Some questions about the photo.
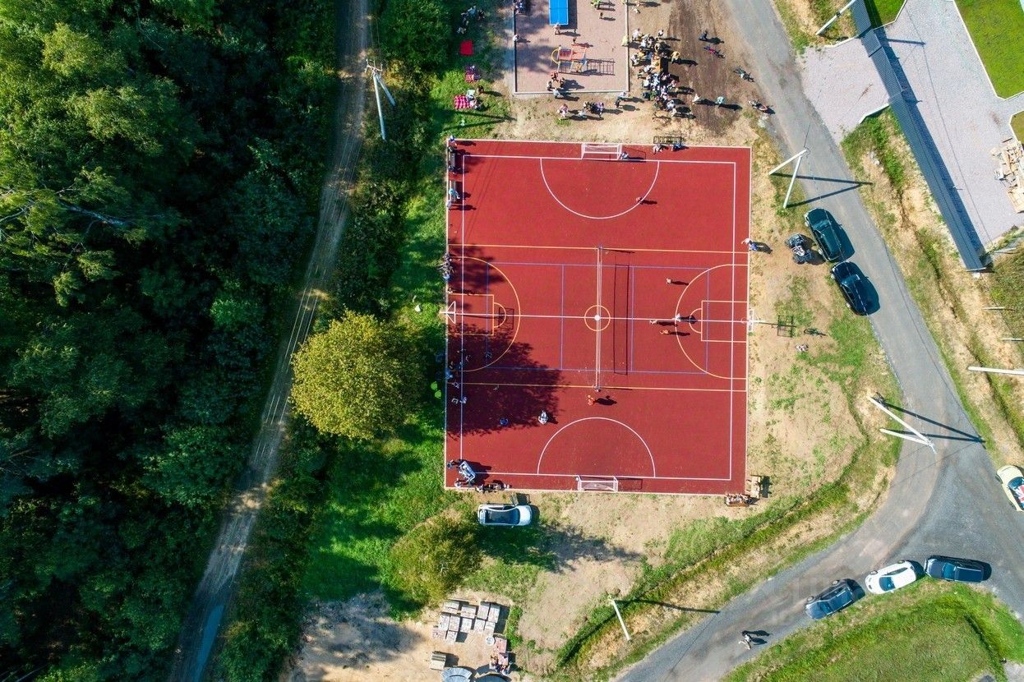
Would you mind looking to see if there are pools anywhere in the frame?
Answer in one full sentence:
No, no pool is visible in the view.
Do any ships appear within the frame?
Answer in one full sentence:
No, there appears to be no ship in this shot.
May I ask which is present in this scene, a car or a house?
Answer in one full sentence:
This aerial view contains a car.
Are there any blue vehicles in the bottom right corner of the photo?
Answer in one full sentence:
Yes, in the bottom right corner of the photo there is a blue vehicle.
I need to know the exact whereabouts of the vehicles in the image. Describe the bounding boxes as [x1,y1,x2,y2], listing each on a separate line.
[999,465,1024,513]
[804,203,847,260]
[788,233,811,261]
[752,95,774,112]
[806,580,860,623]
[478,492,531,530]
[833,260,874,312]
[869,562,920,597]
[926,553,989,583]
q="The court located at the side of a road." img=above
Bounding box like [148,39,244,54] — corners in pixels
[442,137,753,498]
